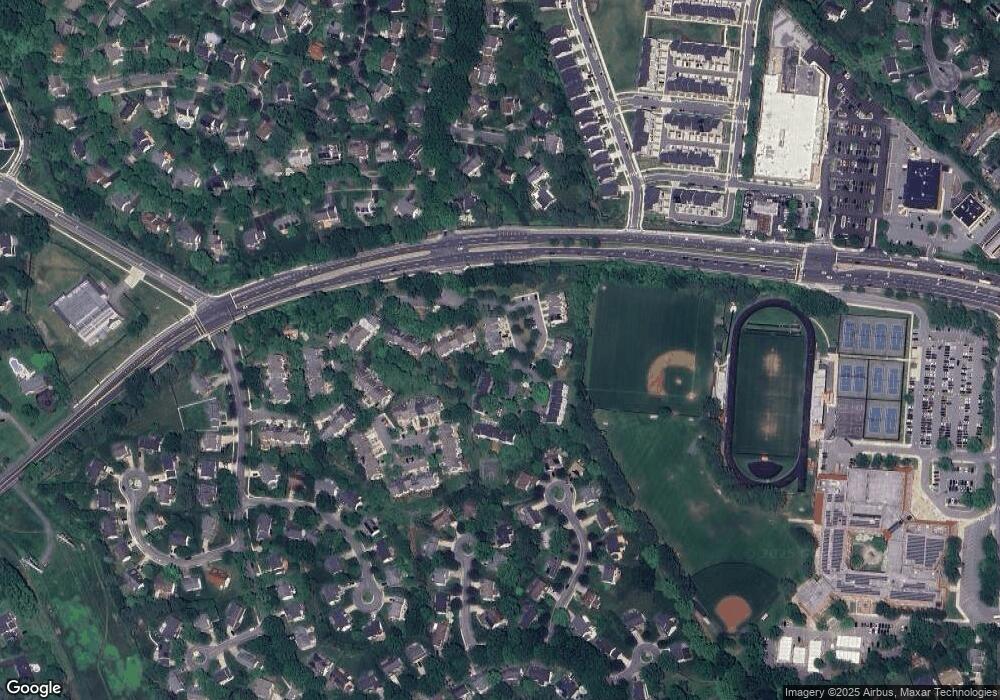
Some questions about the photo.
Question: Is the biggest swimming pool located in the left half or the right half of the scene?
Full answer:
The biggest swimming pool is on the left side of the image.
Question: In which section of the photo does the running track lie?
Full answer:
The running track is in the right part of the image.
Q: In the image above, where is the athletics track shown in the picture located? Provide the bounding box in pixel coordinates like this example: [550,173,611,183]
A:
[725,296,816,491]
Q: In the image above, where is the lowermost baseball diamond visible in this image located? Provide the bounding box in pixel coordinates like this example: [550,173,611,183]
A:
[691,562,780,638]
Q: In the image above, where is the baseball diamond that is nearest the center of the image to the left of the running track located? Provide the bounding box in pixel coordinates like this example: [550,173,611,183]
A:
[590,287,718,418]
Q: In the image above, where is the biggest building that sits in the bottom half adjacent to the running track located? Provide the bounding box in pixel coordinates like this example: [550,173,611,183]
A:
[801,467,957,615]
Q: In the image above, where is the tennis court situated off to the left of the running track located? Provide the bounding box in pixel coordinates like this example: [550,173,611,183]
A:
[479,457,500,483]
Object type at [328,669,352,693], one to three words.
house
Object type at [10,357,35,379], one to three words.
swimming pool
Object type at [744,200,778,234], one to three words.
building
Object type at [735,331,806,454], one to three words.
soccer field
